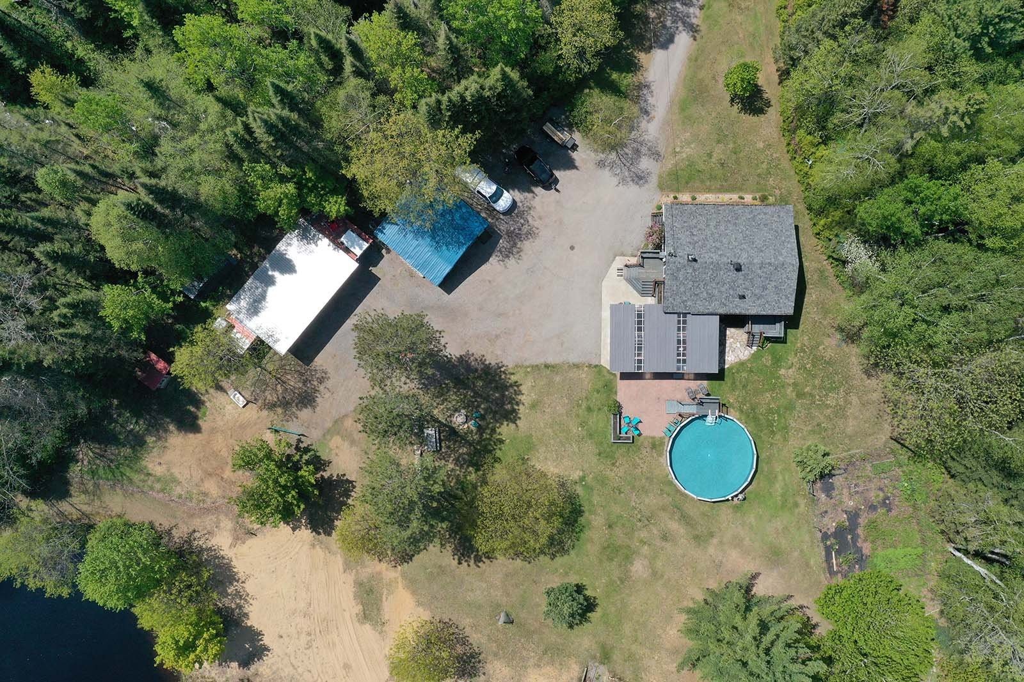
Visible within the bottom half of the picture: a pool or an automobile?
pool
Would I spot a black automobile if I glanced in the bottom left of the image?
No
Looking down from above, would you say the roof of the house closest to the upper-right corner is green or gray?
gray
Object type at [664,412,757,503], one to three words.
swimming pool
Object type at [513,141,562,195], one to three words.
car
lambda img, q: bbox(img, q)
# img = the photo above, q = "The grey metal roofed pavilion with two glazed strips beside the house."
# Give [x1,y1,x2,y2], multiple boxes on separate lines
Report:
[608,304,719,373]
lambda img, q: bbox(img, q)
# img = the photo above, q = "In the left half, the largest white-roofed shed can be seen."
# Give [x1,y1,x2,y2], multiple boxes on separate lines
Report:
[230,219,361,356]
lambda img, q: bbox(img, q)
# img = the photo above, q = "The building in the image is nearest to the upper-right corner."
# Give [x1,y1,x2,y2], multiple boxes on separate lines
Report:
[661,203,799,316]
